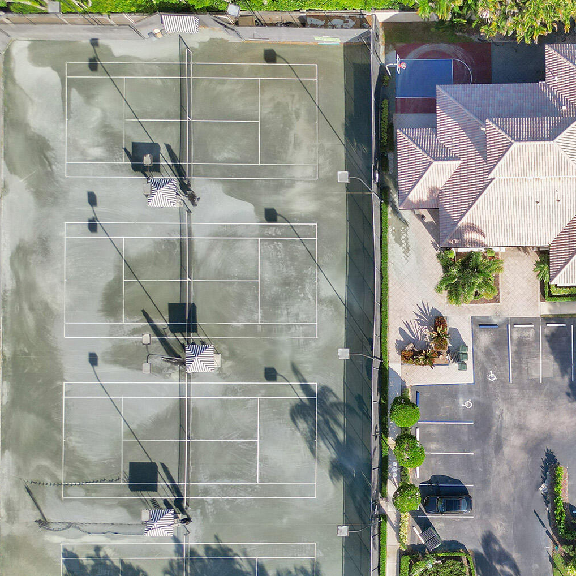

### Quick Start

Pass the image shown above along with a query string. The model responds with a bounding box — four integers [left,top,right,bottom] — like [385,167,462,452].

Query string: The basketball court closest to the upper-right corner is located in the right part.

[395,43,553,114]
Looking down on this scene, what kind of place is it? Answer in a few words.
sports ground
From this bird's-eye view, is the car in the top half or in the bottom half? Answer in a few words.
bottom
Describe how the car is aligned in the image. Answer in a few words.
from side to side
